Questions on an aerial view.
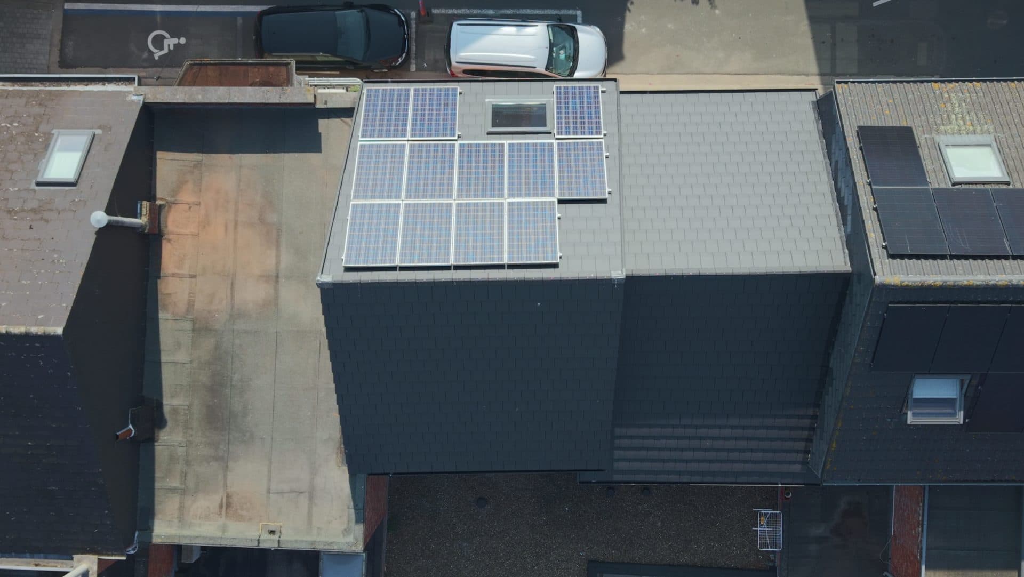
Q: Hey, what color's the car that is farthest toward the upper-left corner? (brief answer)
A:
black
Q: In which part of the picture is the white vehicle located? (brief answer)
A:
top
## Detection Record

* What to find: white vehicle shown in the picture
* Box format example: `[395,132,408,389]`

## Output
[446,6,608,78]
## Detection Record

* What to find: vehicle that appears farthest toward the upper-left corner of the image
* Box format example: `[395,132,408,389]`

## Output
[254,0,412,76]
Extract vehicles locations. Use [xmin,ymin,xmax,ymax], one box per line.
[254,0,412,76]
[446,6,608,78]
